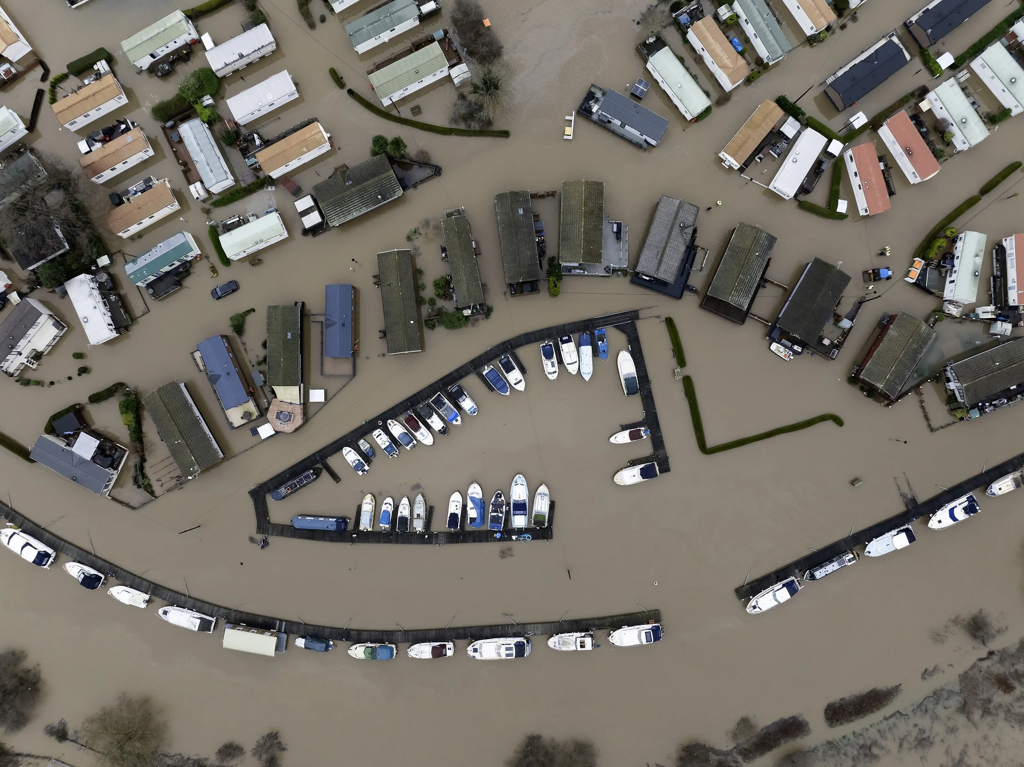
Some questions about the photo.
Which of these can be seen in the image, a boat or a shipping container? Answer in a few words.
boat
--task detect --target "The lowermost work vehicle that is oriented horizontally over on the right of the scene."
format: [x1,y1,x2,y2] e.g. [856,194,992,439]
[859,265,895,283]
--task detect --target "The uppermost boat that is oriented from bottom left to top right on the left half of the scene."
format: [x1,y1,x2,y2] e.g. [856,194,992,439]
[271,466,324,500]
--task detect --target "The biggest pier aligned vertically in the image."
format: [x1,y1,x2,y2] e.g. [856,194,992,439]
[625,326,671,472]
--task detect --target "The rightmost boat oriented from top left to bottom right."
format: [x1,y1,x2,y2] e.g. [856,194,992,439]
[771,343,794,361]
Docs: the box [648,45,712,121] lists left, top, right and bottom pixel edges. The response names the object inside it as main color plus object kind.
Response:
white camper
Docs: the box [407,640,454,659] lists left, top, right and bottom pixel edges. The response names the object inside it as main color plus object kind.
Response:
white boat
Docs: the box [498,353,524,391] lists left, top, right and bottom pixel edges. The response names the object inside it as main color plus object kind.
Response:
white boat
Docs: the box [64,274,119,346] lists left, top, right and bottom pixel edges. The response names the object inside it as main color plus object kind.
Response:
white camper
